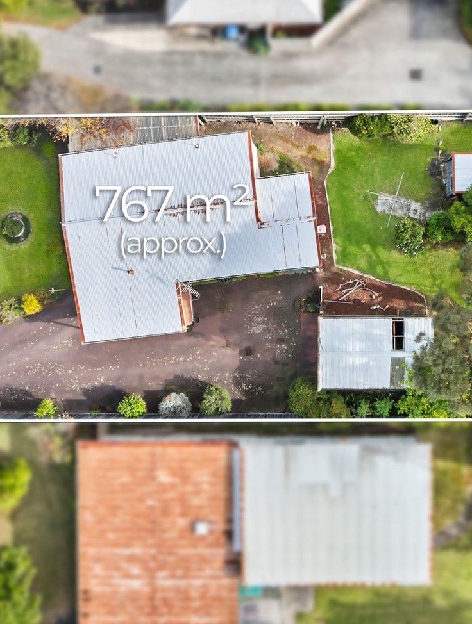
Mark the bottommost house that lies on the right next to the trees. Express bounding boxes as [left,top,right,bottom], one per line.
[208,435,434,588]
